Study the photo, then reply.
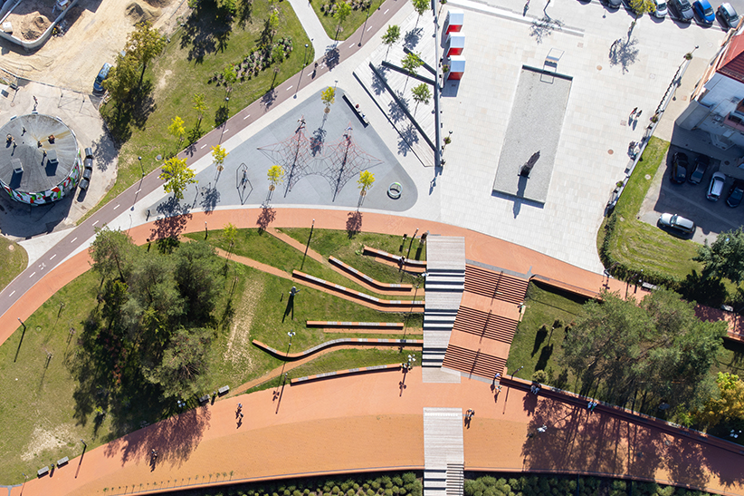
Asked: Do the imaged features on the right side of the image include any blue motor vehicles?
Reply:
Yes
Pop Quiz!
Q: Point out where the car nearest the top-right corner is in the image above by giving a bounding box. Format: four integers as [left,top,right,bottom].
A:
[716,0,742,30]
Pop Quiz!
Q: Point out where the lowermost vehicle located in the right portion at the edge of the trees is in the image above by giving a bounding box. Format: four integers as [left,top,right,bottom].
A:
[654,209,700,236]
